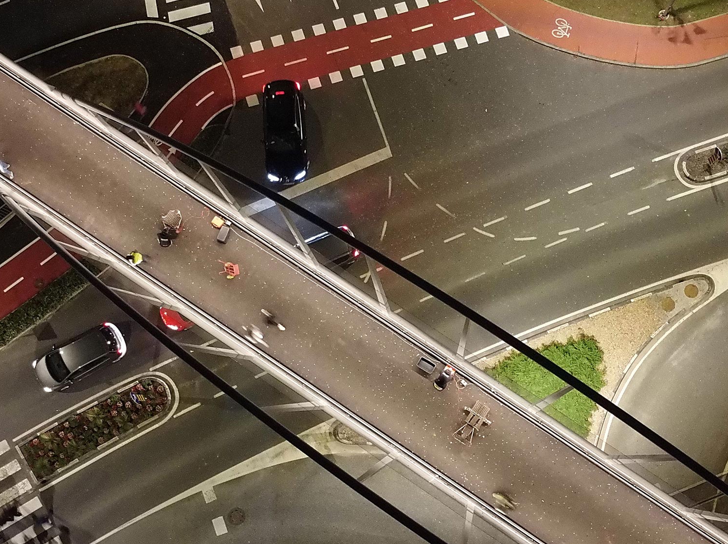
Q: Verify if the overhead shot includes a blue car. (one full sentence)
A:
No, no blue car is visible in the scene.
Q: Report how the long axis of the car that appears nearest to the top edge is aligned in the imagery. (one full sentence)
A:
The car that appears nearest to the top edge is laid out vertically.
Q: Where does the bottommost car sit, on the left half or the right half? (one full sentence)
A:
The bottommost car is on the left side of the image.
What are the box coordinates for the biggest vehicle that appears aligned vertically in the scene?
[254,76,306,184]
